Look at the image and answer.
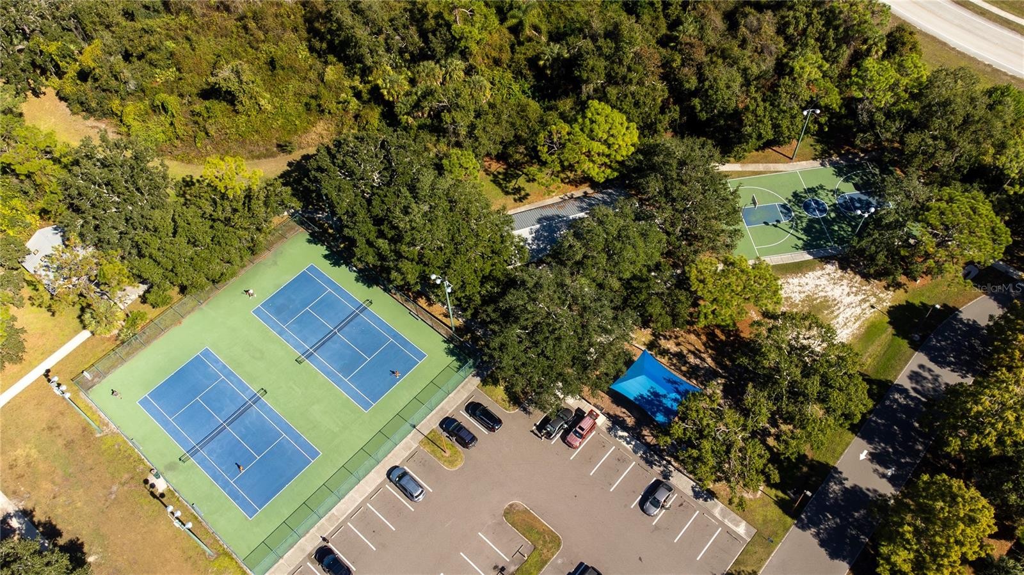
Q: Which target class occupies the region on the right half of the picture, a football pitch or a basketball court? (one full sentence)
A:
What appears on the right half of the picture is a basketball court.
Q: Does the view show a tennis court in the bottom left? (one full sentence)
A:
Yes, looking in the bottom left, one can make out a tennis court.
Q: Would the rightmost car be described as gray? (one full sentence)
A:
Yes, the rightmost car is indeed gray.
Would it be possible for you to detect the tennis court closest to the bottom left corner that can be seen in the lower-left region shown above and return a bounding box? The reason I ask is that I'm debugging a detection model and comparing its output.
[87,305,382,575]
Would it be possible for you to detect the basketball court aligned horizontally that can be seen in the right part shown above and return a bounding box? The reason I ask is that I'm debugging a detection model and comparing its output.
[707,158,929,262]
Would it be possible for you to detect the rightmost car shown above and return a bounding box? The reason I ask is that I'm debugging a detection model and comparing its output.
[643,479,676,518]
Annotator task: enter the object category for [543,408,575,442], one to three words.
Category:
car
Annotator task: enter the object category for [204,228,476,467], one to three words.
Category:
tennis court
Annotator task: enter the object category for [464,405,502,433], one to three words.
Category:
car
